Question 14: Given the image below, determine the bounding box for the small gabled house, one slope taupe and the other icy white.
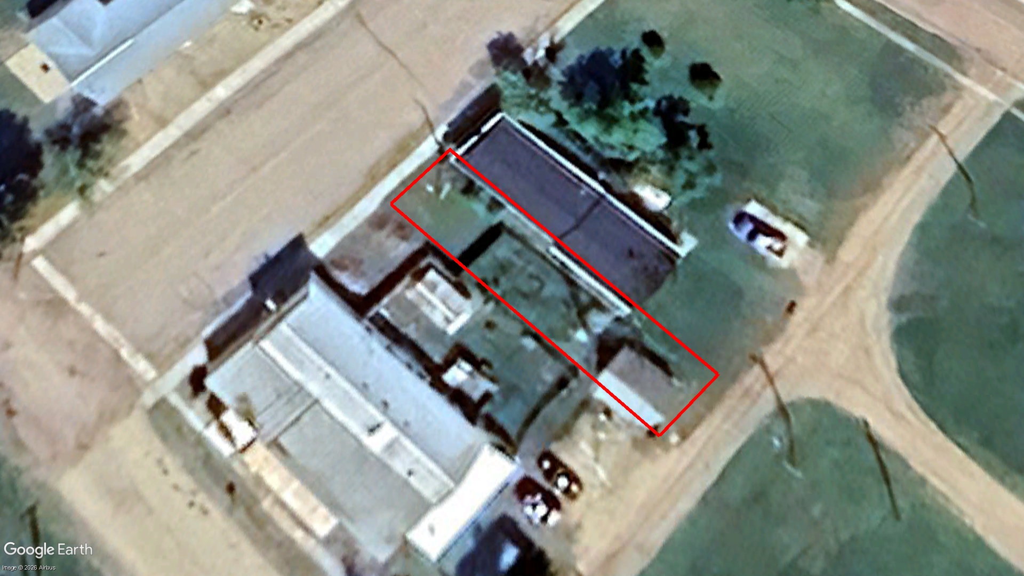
[592,345,687,430]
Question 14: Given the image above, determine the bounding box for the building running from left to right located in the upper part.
[28,0,257,106]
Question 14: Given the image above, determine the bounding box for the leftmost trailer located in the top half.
[628,180,670,214]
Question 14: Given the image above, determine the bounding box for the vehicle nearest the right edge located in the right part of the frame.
[730,213,790,265]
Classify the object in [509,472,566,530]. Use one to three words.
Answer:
truck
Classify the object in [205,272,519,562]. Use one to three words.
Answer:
building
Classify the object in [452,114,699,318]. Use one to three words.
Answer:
house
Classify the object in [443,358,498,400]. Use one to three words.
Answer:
shed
